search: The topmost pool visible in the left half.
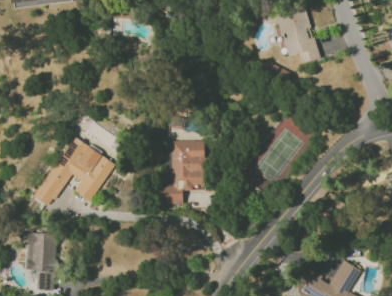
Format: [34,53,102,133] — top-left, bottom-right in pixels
[123,22,150,39]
